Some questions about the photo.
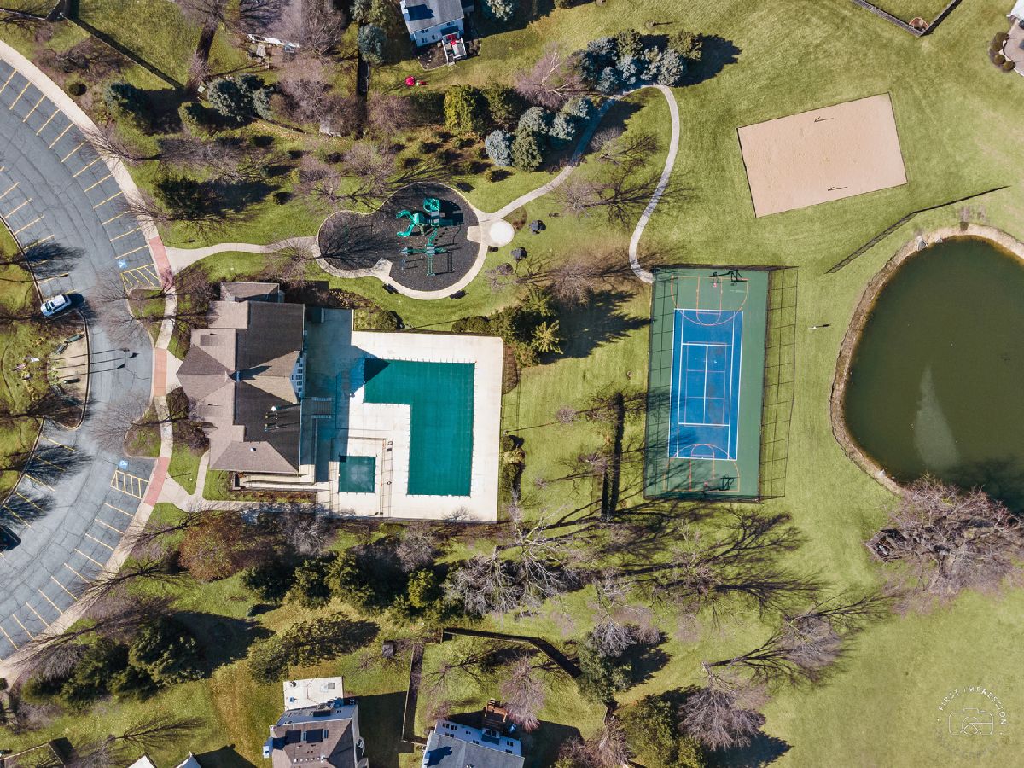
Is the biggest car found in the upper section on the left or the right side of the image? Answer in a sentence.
You can find the biggest car found in the upper section on the left side of the picture.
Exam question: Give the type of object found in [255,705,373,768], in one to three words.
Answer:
house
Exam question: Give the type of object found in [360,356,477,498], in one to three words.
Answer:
swimming pool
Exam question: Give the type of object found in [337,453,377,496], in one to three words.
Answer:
swimming pool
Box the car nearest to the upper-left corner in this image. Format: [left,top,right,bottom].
[38,294,71,315]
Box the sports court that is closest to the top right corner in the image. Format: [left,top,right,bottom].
[738,92,908,217]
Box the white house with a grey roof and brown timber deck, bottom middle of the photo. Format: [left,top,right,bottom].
[416,719,522,768]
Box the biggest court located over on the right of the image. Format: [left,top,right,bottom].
[644,268,770,500]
